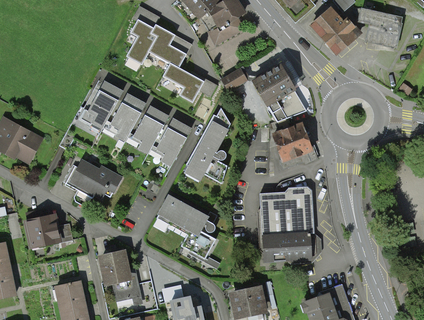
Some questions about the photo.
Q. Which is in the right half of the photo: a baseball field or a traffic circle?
traffic circle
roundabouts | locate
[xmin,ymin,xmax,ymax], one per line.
[322,81,391,150]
